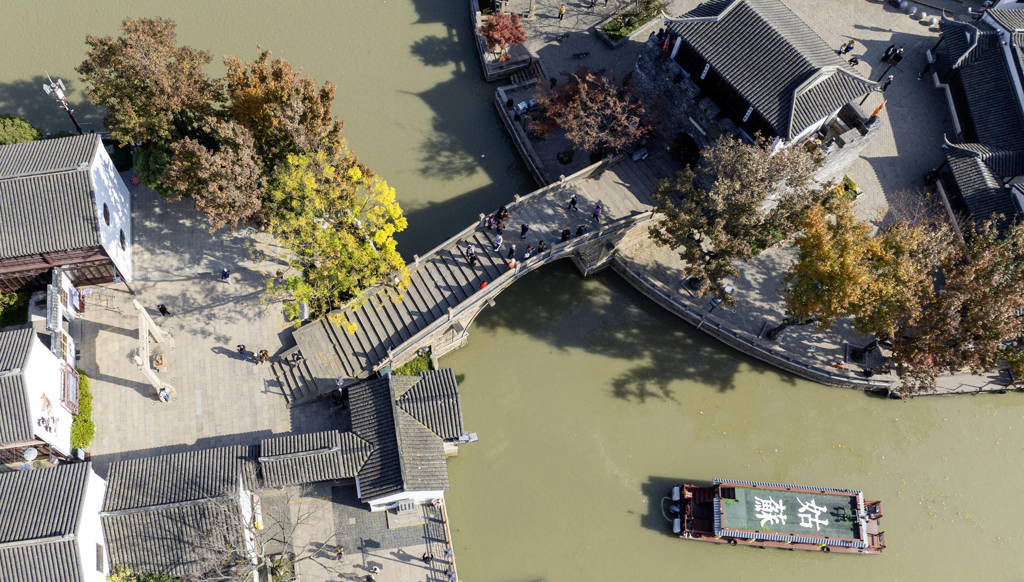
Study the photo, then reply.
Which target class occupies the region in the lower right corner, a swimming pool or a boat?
boat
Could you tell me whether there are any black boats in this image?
No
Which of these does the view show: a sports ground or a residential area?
residential area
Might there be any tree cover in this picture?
Yes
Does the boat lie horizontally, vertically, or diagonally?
horizontally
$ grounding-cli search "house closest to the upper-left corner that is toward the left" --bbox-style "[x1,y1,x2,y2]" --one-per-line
[0,133,127,293]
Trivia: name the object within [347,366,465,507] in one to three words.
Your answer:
building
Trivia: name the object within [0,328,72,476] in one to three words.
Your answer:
house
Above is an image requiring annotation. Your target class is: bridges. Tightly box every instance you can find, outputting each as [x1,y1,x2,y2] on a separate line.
[265,154,682,416]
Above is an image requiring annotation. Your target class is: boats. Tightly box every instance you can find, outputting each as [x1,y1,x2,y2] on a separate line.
[658,475,885,563]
